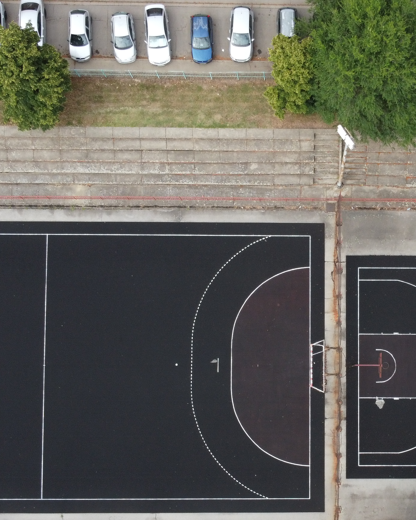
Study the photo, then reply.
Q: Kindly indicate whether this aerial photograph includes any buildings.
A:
No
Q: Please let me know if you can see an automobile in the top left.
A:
Yes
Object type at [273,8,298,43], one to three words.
car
